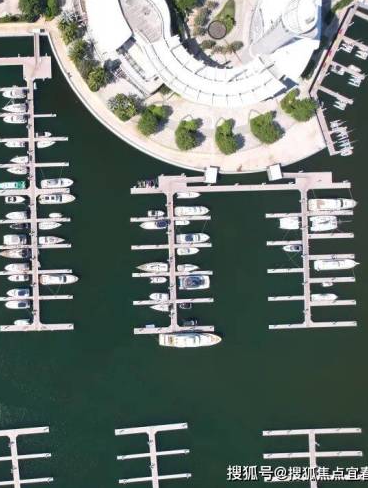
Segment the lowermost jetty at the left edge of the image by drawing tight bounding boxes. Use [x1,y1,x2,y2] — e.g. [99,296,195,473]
[0,427,54,488]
